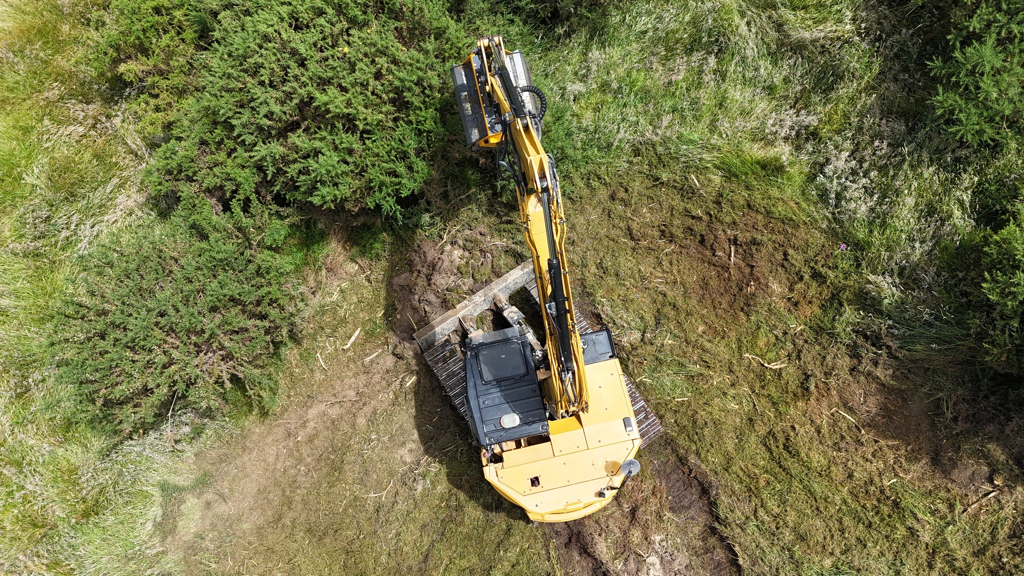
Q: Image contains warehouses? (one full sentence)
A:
No, there is no warehouse in the image.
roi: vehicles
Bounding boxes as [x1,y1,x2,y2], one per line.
[411,30,660,522]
